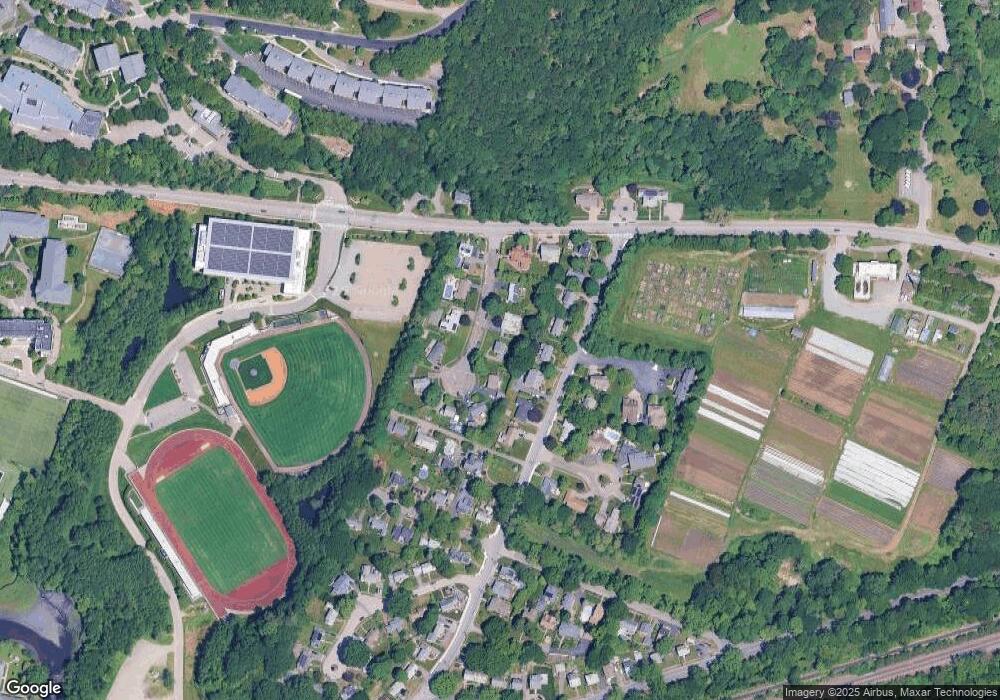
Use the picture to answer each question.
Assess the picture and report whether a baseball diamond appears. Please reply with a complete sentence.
Yes, I can see a baseball diamond in this picture.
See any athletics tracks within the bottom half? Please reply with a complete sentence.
Yes, there is an athletics track within the bottom half.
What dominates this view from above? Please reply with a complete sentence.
The bulk of the photo consists of trees.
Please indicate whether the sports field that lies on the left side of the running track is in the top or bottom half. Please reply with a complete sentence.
The bottom half of the photo is where the sports field that lies on the left side of the running track is.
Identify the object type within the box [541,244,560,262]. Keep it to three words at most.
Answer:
house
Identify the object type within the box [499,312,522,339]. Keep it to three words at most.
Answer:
house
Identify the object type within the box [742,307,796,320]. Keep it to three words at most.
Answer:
greenhouse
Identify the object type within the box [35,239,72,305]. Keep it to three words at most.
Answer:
building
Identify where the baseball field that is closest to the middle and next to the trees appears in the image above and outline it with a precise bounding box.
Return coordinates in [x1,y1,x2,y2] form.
[216,316,375,474]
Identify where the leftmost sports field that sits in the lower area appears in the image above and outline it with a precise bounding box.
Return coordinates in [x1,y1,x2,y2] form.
[0,380,65,532]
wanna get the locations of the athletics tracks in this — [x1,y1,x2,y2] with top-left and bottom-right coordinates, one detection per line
[128,425,300,618]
